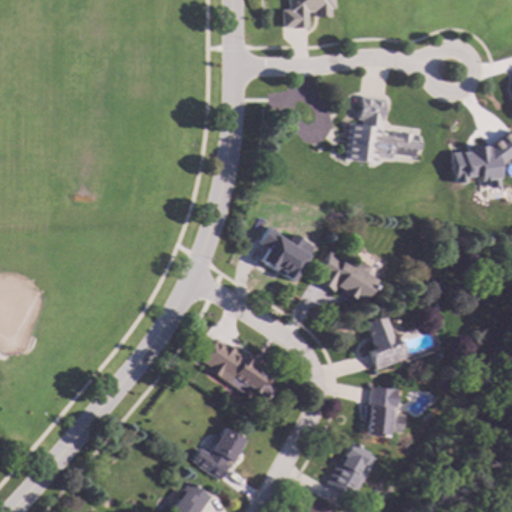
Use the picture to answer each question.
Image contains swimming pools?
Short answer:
Yes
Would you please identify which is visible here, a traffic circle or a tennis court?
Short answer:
traffic circle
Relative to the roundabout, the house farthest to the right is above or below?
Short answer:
below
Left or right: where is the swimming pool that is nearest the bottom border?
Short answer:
right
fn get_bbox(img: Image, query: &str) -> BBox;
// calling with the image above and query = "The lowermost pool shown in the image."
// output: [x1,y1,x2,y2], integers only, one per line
[405,390,435,417]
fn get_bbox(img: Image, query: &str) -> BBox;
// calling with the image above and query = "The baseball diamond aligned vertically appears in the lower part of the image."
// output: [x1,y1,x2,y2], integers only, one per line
[0,272,42,362]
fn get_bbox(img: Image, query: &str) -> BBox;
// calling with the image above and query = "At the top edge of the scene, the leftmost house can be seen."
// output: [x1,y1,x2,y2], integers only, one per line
[283,0,340,29]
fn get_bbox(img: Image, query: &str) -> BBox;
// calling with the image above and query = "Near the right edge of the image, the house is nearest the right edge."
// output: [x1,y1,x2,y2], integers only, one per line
[450,133,512,186]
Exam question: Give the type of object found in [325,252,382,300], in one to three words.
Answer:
house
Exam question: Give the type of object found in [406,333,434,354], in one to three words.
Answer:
swimming pool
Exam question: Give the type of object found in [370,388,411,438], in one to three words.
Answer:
house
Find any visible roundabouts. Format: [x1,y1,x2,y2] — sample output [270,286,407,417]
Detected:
[415,42,480,103]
